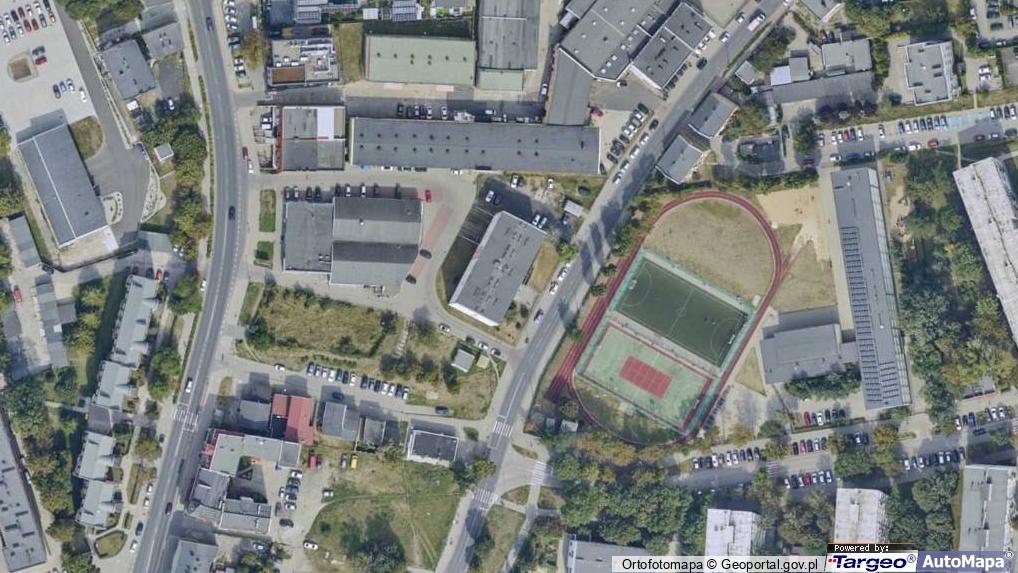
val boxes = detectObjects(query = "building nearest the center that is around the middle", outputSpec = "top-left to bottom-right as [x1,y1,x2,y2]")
[447,211,545,329]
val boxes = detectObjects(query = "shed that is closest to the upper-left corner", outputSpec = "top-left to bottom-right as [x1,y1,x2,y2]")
[99,22,138,48]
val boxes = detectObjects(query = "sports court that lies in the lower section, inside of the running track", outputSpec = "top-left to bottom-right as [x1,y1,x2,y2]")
[584,321,713,430]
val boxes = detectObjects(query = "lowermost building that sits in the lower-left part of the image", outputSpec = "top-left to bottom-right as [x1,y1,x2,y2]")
[172,540,219,573]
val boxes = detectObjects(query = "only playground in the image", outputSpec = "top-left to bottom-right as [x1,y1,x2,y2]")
[888,175,911,236]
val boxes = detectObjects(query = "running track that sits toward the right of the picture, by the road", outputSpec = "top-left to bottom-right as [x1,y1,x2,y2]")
[546,190,804,446]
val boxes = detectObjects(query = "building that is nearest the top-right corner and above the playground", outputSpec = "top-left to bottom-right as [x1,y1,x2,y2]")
[904,42,958,105]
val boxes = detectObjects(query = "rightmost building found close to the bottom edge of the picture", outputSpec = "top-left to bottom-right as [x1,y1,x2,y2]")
[956,465,1017,573]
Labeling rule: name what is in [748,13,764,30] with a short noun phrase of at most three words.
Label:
vehicle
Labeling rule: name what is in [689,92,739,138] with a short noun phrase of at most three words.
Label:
house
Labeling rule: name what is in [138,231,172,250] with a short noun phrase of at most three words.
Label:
shed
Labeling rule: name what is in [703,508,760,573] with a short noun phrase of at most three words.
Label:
building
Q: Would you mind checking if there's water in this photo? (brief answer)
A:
No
